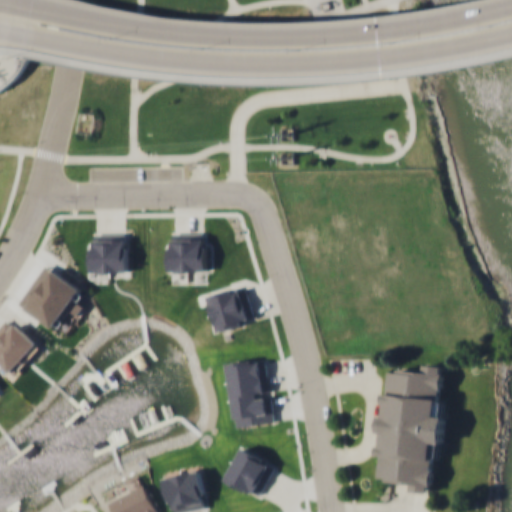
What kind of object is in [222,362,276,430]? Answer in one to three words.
house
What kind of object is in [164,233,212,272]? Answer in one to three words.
house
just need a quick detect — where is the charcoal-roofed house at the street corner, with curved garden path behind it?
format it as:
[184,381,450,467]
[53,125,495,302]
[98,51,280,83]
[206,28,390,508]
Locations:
[86,234,130,273]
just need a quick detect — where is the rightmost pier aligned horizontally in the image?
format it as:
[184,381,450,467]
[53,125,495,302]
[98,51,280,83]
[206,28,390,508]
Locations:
[130,409,204,438]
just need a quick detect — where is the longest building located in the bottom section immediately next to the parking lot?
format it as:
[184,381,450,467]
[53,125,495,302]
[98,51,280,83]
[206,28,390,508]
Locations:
[374,367,450,498]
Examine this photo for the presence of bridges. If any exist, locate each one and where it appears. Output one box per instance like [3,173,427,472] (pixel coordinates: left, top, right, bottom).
[0,0,512,85]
